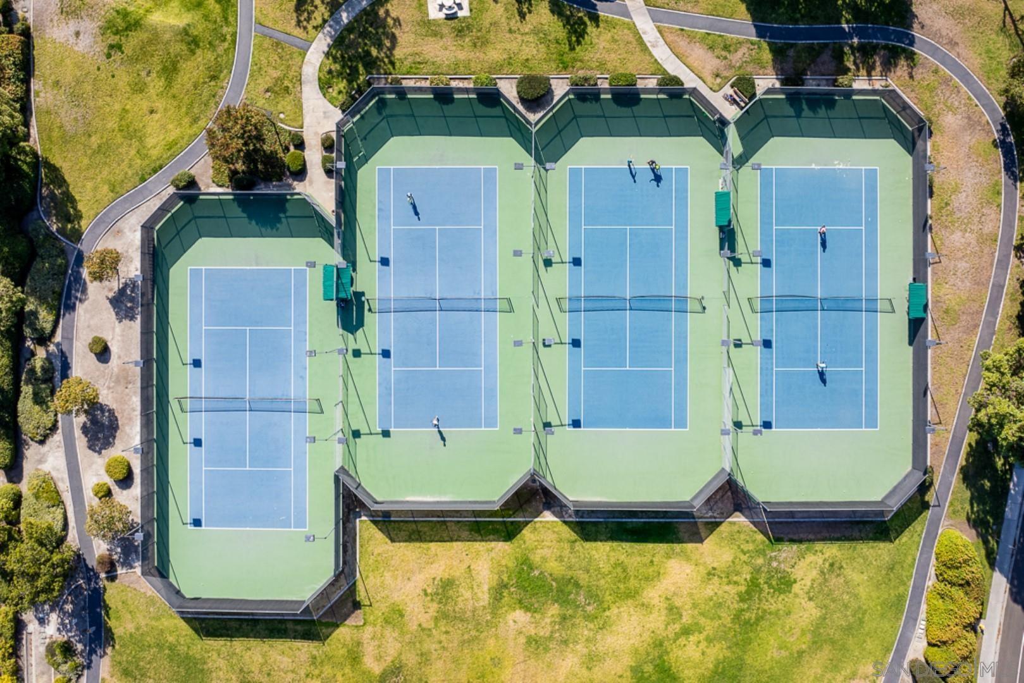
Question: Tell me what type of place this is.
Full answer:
The picture captures a sports ground.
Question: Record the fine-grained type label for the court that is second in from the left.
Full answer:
Specifically, the court that is second in from the left is a tennis court.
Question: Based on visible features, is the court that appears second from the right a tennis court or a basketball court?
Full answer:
It turns out the court that appears second from the right is a tennis court.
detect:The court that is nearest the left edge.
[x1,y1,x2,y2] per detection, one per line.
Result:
[154,198,342,602]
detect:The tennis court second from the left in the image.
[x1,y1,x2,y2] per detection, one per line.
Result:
[342,97,533,503]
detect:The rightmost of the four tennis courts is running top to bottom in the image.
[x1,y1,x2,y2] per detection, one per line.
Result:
[723,97,912,505]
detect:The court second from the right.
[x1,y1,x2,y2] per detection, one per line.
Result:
[533,97,723,503]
